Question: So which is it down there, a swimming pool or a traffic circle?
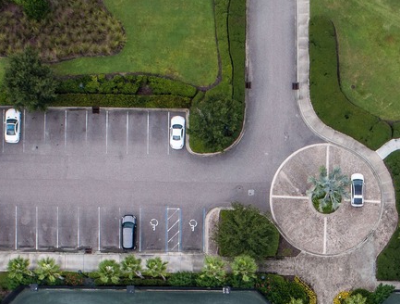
traffic circle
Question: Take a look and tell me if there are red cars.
No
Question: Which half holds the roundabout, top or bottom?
bottom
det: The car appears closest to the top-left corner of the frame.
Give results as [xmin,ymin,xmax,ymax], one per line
[3,110,22,144]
